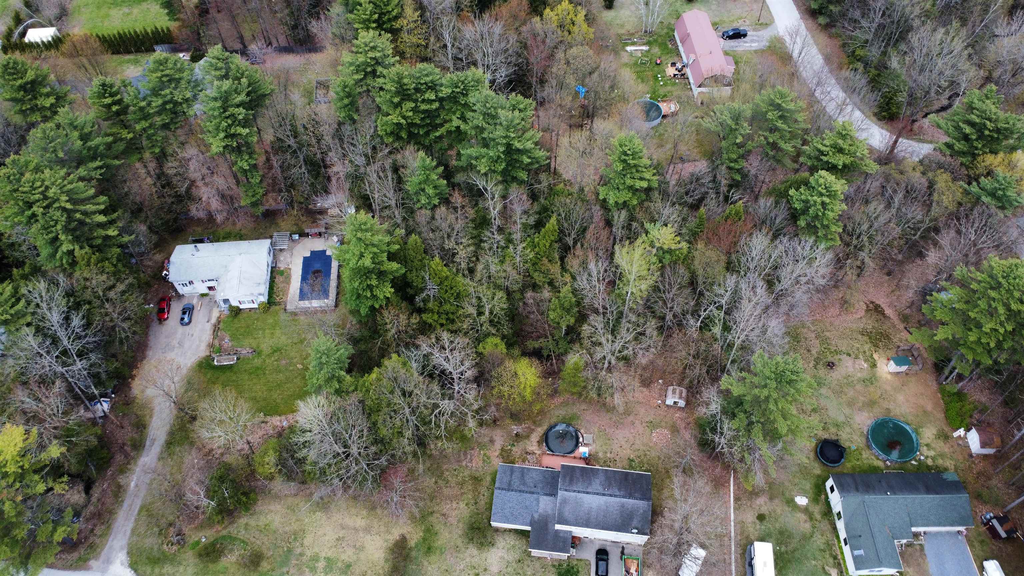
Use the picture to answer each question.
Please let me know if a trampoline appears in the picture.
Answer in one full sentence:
Yes, you can see a trampoline in this photo.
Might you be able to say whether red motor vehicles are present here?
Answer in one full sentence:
Yes, I can see a red motor vehicle in this picture.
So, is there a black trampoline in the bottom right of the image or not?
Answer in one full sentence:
Yes, a black trampoline appears in the bottom right of the image.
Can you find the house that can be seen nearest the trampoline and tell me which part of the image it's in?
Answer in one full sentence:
The house that can be seen nearest the trampoline is located in the bottom right region of the scene.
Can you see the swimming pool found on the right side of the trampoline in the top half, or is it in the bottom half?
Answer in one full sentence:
It is in the bottom half that the swimming pool found on the right side of the trampoline appears.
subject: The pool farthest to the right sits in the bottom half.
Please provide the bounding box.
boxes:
[867,420,918,460]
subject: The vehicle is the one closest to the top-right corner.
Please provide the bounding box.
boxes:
[721,29,749,41]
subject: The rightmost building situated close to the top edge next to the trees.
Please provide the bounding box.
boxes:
[676,9,737,98]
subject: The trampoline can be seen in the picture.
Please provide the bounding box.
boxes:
[816,434,849,466]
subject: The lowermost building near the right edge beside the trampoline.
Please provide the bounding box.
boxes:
[825,470,977,574]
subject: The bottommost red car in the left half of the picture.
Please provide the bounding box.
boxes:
[156,296,172,321]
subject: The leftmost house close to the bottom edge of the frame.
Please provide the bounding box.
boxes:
[490,463,653,559]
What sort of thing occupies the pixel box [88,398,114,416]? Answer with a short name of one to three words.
vehicle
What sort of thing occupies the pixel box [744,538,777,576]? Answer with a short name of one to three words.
vehicle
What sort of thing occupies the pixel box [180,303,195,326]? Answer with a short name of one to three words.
car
